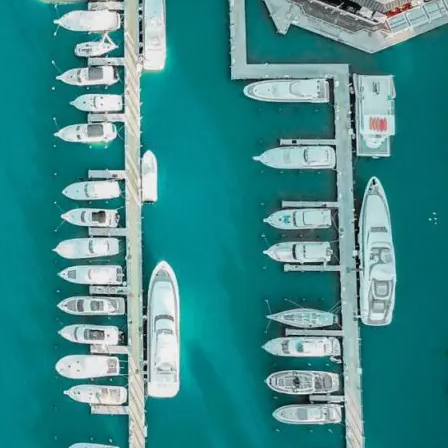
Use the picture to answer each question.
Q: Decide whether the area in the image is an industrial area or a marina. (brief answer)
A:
marina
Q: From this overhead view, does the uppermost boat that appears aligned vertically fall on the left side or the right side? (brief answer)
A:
left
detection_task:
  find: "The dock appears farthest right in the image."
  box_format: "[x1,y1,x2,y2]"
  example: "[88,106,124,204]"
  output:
[229,0,364,448]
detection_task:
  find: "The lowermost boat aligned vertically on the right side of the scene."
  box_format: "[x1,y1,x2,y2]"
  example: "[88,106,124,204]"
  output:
[357,176,397,326]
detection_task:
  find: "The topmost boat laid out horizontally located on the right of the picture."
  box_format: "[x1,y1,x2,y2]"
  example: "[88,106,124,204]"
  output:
[244,78,336,104]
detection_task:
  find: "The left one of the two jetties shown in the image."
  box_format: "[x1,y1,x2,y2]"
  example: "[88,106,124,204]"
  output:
[88,0,145,448]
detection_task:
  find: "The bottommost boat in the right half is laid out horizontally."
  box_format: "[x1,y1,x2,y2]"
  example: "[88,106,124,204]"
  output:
[273,402,350,427]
